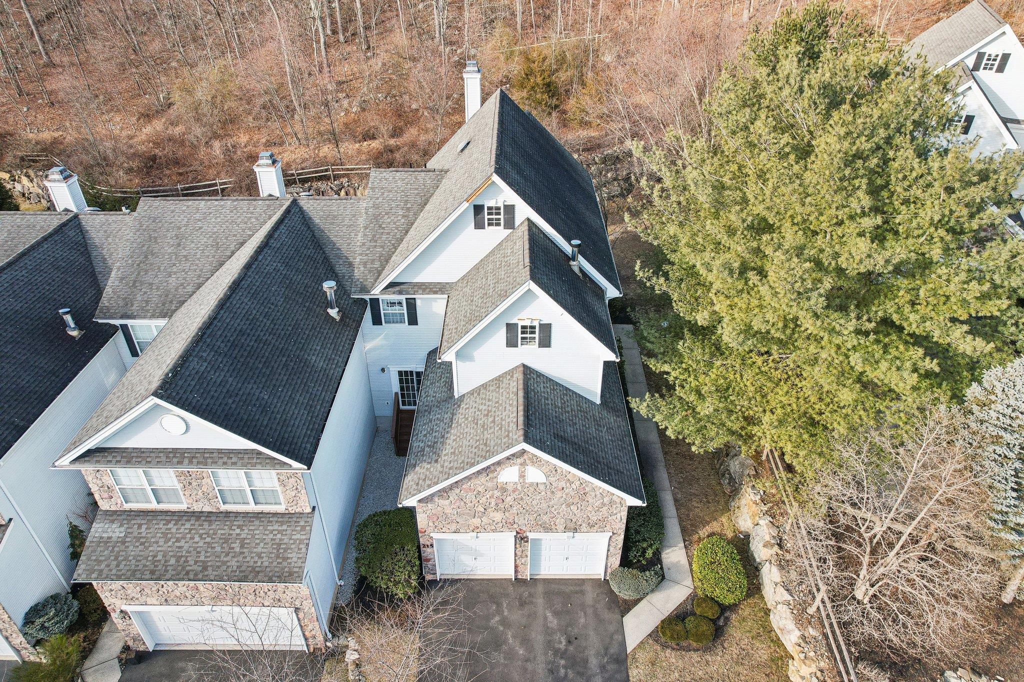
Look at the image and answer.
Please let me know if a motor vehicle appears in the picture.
No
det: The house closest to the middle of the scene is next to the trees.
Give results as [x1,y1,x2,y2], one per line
[348,61,650,581]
